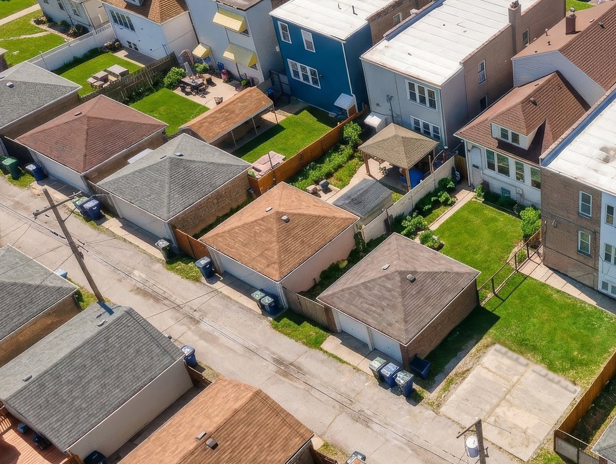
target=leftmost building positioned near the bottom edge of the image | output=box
[0,298,191,464]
